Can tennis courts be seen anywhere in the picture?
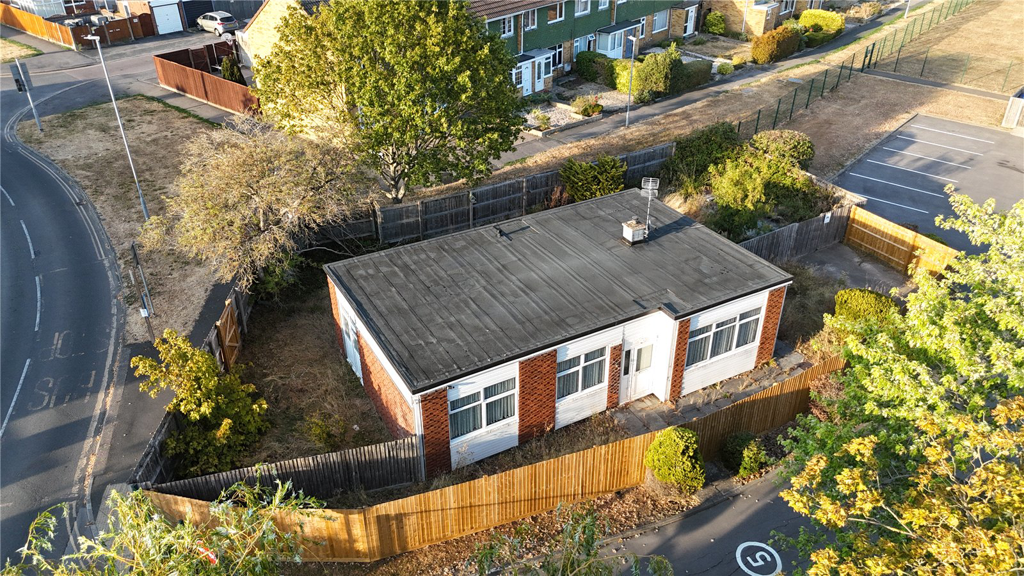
No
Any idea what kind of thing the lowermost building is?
residential house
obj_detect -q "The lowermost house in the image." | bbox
[324,188,796,478]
